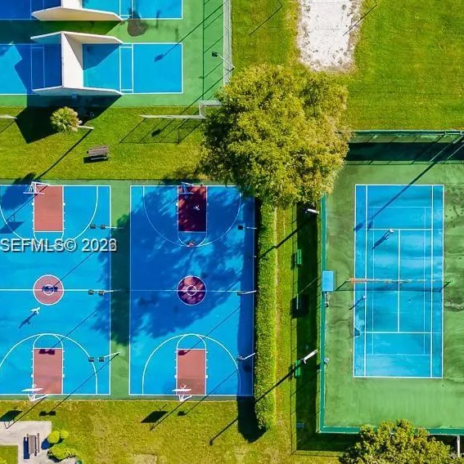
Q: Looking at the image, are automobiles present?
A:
No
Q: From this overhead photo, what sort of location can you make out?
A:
sports ground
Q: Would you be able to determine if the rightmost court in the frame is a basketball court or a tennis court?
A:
tennis court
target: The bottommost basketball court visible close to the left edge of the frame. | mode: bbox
[0,185,111,396]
